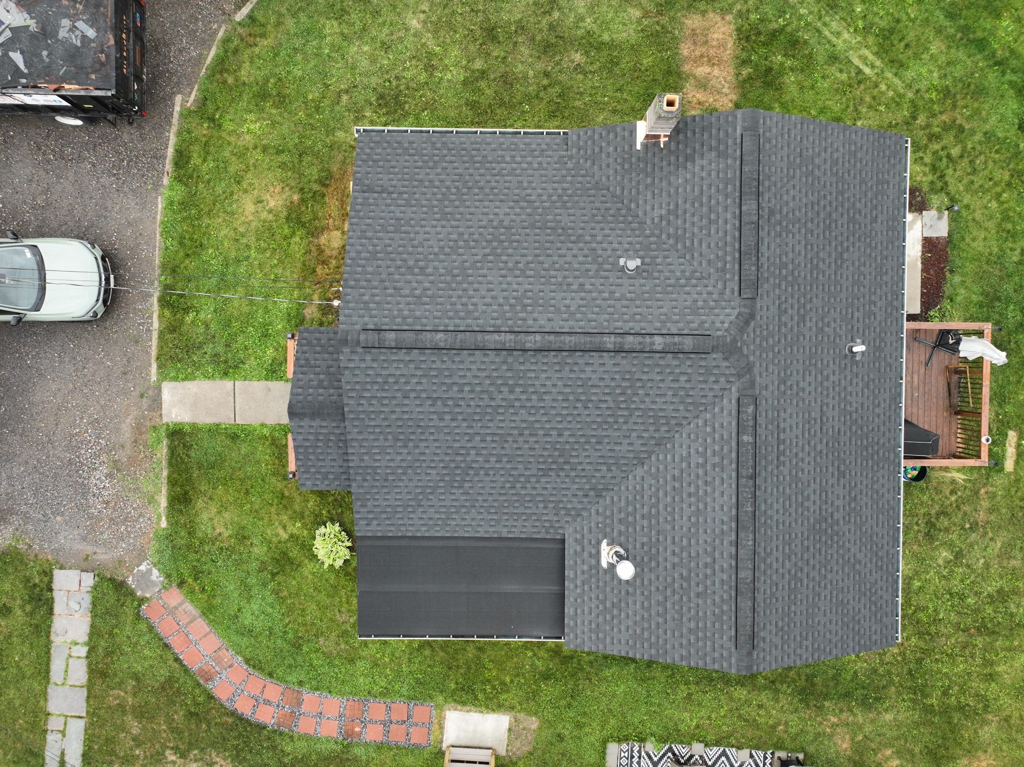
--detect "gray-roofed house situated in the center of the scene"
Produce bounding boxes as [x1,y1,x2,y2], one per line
[288,93,910,676]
